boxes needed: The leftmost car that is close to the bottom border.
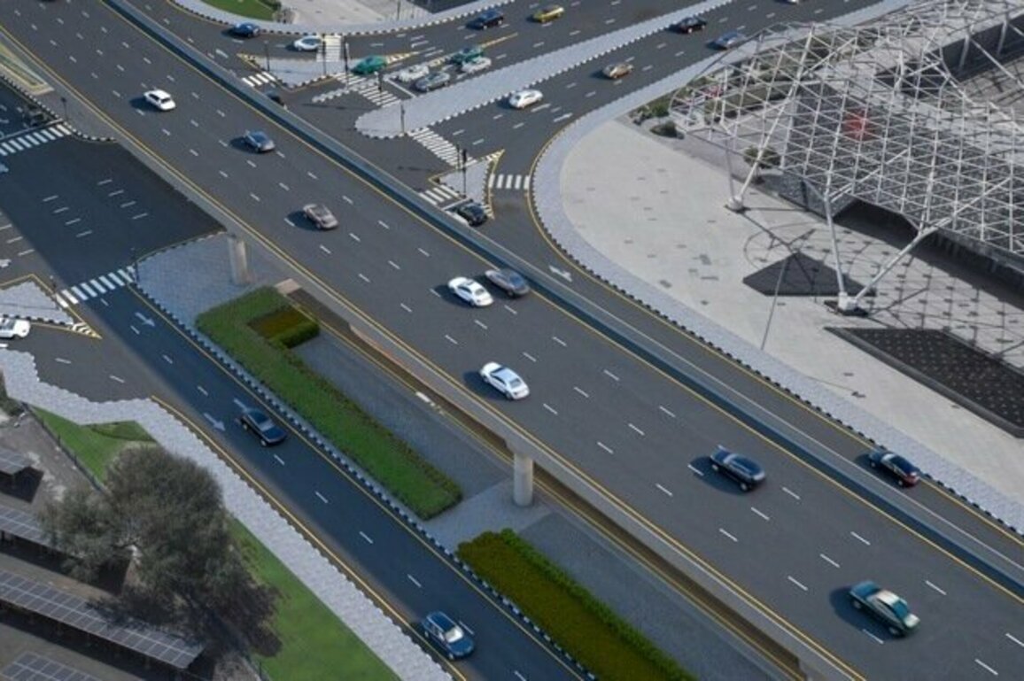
[421,610,475,659]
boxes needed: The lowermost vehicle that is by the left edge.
[0,317,36,340]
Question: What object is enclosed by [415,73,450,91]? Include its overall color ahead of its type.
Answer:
gray car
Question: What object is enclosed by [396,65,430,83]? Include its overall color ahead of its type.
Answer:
white car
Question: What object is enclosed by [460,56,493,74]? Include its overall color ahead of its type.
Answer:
white car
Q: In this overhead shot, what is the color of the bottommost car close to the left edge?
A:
white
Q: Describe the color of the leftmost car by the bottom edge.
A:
blue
